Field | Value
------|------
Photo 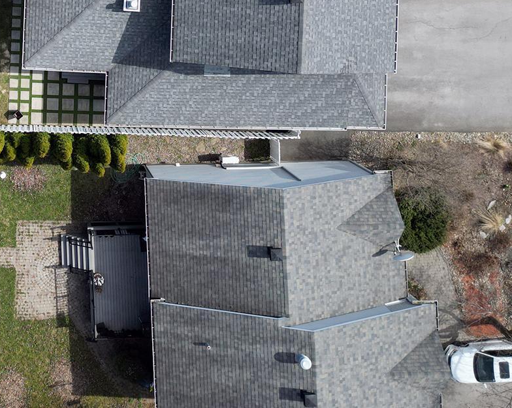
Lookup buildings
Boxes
[20,0,403,133]
[141,163,453,408]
